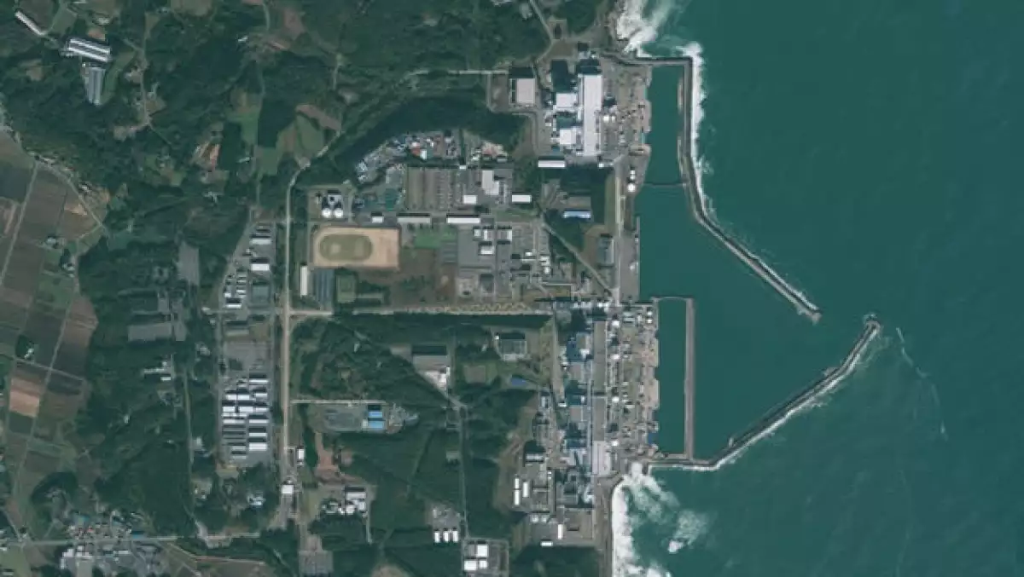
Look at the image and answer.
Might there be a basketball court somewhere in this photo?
No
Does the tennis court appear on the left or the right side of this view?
left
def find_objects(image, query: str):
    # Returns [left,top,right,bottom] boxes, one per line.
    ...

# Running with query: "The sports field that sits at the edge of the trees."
[312,225,401,269]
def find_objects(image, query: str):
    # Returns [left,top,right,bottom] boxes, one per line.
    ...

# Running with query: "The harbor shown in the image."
[620,64,688,465]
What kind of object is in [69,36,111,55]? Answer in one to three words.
greenhouse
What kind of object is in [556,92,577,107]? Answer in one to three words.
building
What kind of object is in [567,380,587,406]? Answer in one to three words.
building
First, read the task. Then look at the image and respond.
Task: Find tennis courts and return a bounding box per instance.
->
[336,272,356,303]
